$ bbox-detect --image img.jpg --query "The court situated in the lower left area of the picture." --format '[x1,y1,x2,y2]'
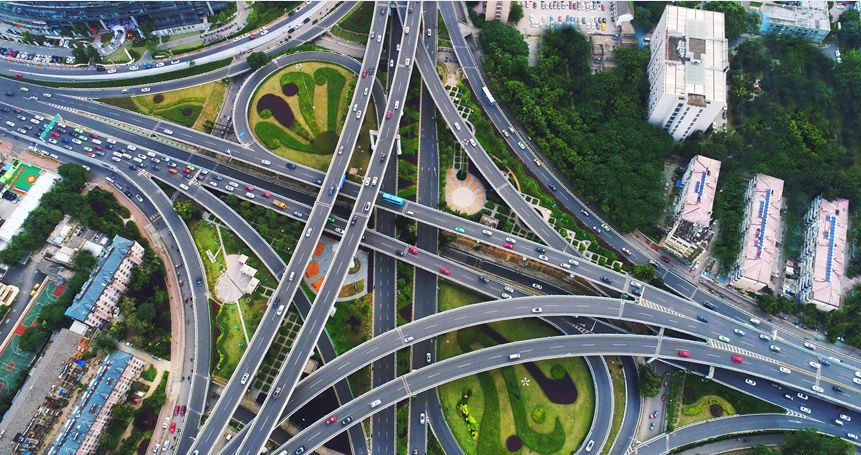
[0,281,65,402]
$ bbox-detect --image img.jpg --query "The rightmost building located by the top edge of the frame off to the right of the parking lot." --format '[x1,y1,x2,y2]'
[755,0,832,41]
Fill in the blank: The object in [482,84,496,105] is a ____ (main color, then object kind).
white vehicle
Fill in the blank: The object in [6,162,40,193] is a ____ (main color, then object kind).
green sports court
